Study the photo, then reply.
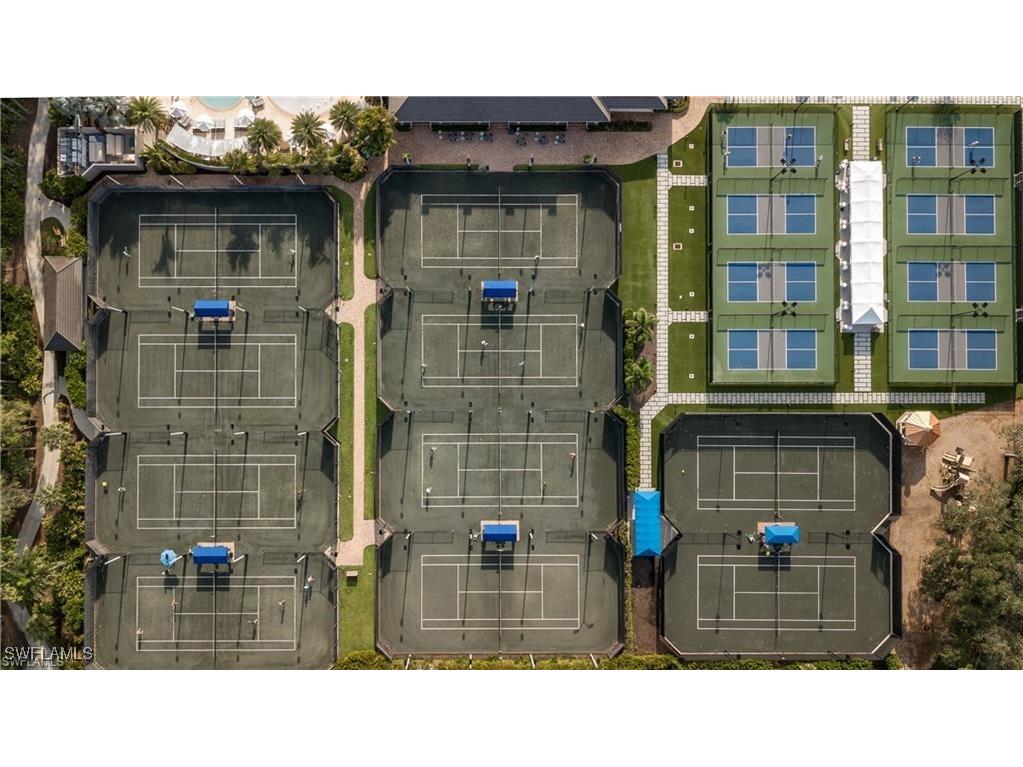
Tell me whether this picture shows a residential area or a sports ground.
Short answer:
sports ground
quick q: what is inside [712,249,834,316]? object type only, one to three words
sports court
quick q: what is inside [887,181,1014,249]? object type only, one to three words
sports court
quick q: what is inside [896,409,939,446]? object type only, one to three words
gazebo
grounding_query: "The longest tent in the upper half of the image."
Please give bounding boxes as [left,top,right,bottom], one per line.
[846,160,884,325]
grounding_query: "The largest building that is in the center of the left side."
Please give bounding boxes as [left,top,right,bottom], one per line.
[45,256,87,350]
